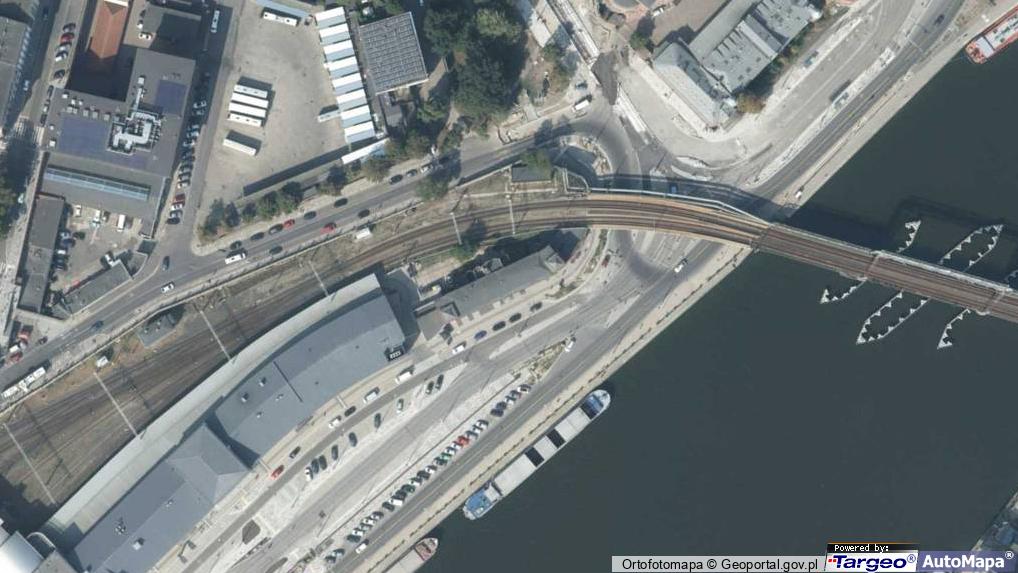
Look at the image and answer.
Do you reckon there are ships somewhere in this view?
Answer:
Yes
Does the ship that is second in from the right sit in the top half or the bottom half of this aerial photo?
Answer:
bottom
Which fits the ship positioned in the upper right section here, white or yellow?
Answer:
white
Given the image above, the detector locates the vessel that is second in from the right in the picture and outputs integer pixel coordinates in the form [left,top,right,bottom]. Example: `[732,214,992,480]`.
[451,385,611,521]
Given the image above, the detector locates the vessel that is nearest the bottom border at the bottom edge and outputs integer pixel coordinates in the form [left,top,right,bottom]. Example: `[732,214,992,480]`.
[389,529,440,573]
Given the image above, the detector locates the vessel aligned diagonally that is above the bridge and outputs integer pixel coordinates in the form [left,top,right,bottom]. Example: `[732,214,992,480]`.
[954,6,1018,63]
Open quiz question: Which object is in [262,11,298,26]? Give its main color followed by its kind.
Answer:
white vehicle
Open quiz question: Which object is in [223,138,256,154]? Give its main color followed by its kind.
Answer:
white vehicle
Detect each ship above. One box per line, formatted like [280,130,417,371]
[954,6,1018,63]
[451,385,611,521]
[389,529,440,573]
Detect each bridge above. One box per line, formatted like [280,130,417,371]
[585,188,1018,321]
